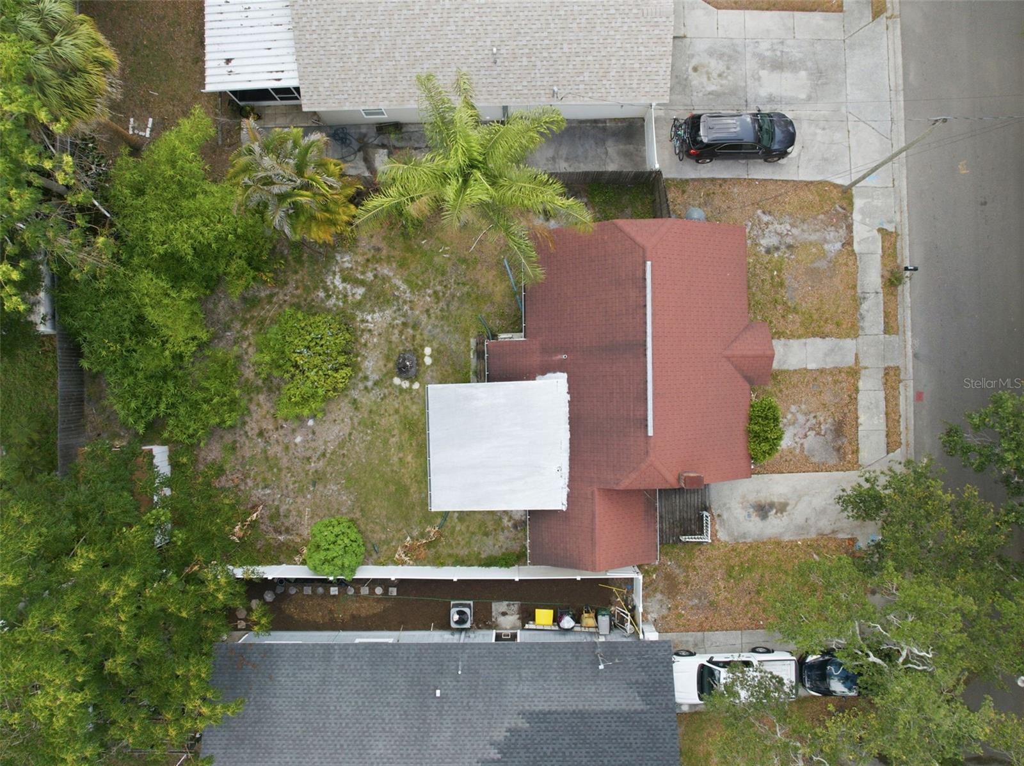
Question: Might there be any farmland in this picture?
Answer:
No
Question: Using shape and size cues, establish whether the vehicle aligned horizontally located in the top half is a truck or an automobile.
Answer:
automobile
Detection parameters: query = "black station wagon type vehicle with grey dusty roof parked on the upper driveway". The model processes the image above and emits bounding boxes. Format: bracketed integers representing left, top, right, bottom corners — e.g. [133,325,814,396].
[672,106,794,162]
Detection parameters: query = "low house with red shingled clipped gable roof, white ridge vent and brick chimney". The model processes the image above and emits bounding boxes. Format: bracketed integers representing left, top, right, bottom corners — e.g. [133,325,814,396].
[424,216,774,571]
